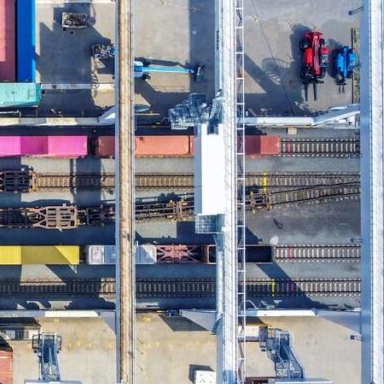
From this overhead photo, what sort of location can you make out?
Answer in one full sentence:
The picture captures a rail yard.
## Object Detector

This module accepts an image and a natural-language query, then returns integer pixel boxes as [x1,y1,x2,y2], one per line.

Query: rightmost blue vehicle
[332,48,355,92]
